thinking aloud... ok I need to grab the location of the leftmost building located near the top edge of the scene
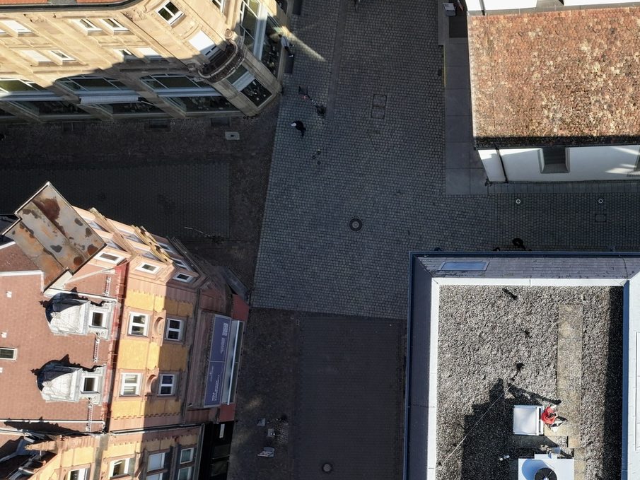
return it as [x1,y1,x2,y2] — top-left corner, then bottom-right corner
[0,0,297,126]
